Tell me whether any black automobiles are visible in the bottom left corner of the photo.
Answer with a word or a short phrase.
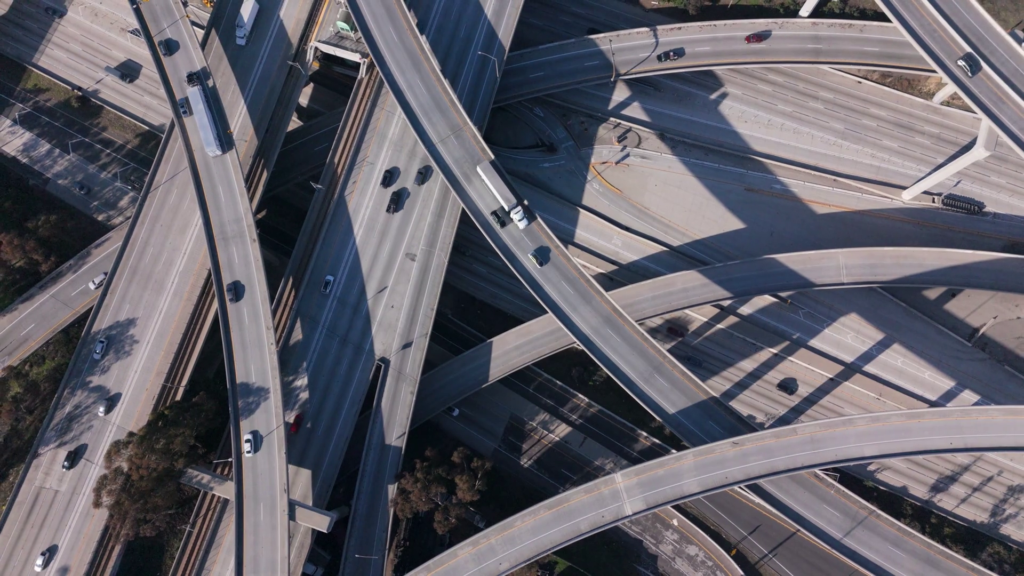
Yes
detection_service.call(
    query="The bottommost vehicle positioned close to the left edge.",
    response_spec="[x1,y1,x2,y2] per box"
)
[34,549,51,572]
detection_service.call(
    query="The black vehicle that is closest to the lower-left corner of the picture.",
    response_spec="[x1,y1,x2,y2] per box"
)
[61,449,77,472]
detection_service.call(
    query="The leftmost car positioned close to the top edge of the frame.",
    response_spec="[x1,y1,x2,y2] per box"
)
[44,4,62,17]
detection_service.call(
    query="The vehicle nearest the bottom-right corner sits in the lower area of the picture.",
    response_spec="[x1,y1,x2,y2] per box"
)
[777,379,797,394]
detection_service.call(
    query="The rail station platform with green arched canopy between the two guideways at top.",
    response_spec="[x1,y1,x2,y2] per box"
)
[295,0,367,102]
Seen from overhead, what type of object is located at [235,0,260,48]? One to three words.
truck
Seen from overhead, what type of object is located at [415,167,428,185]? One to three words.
vehicle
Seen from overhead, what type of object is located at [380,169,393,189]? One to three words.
vehicle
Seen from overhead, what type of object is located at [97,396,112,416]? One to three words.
car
